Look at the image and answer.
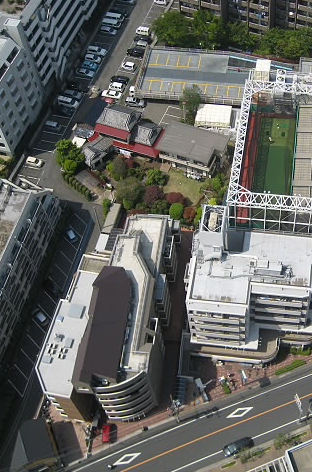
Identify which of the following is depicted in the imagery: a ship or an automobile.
automobile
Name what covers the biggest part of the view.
buildings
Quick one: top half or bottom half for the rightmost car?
bottom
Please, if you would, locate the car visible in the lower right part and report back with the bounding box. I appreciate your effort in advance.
[225,435,253,456]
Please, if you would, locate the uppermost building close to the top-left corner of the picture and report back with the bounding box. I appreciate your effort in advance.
[0,0,99,90]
